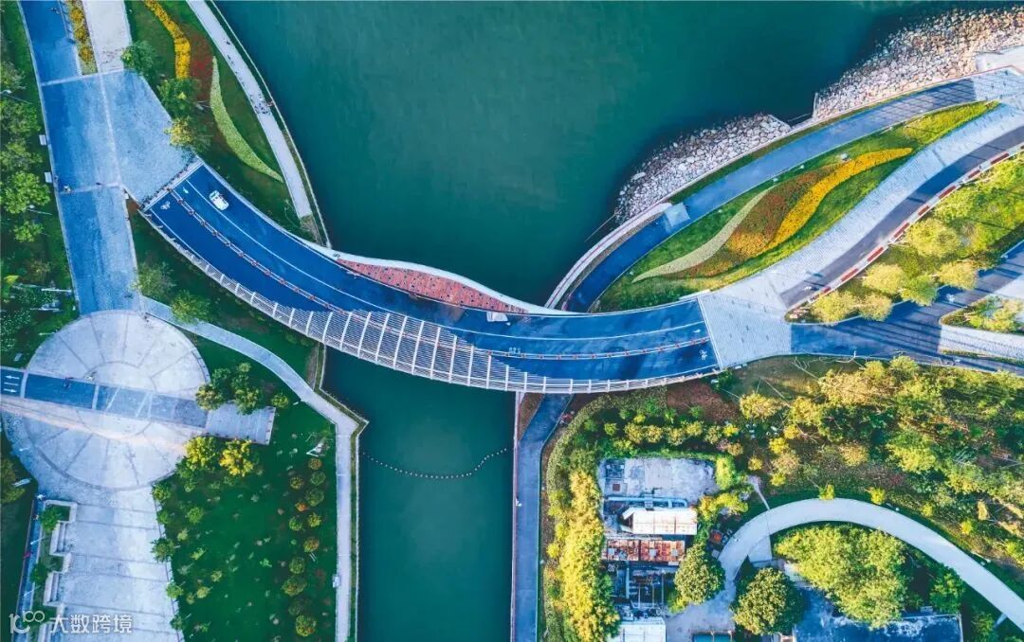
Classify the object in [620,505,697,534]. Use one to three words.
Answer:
shed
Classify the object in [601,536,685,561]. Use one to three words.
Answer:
shed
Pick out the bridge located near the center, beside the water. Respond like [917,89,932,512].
[142,159,728,395]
